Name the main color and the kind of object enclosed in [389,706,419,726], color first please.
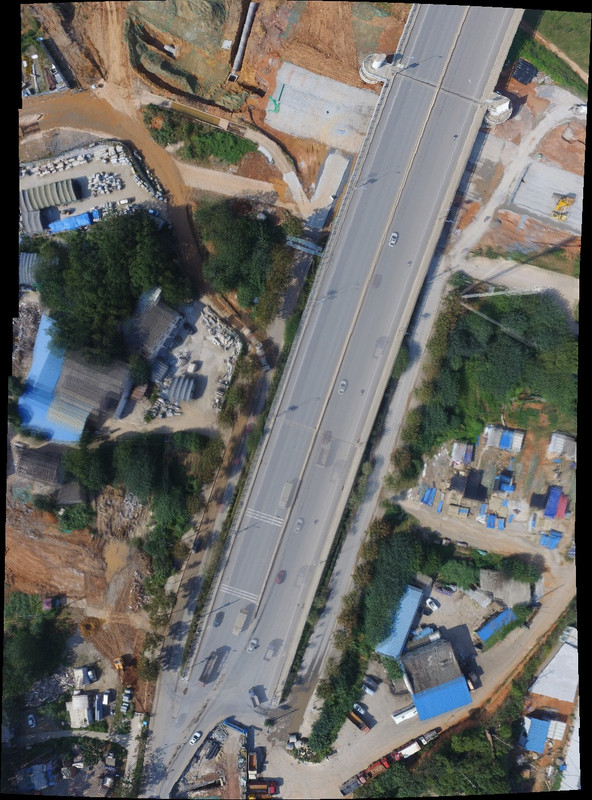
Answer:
white vehicle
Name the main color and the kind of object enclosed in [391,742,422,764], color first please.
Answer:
white truck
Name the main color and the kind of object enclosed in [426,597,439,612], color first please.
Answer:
white vehicle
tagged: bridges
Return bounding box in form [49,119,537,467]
[188,0,526,702]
